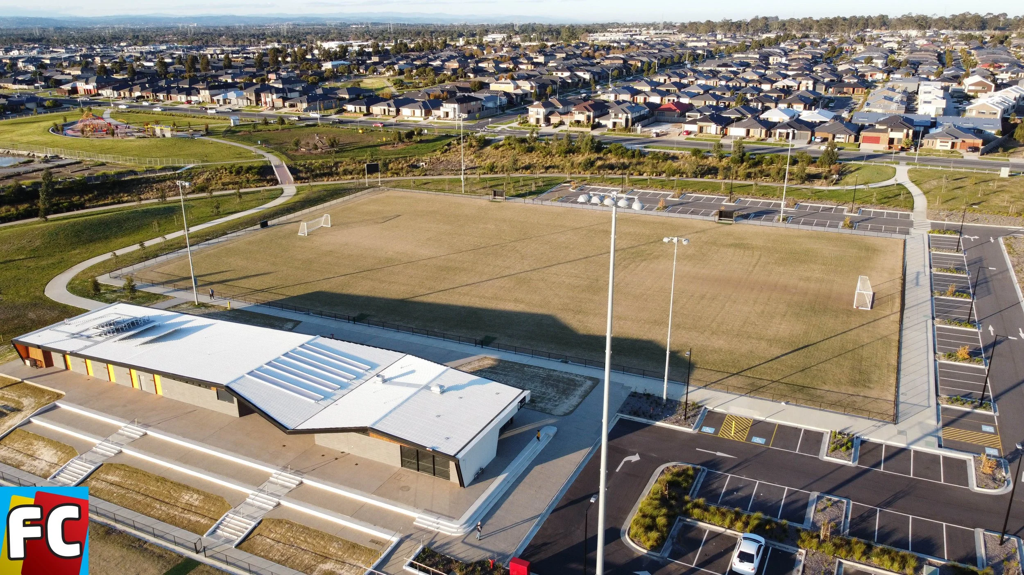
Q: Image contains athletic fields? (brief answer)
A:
Yes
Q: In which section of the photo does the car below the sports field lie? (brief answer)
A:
bottom right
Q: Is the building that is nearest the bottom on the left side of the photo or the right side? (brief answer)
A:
left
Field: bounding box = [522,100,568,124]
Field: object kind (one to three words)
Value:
house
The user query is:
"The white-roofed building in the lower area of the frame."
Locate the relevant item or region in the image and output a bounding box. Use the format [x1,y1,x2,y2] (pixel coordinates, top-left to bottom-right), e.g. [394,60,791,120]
[11,302,530,490]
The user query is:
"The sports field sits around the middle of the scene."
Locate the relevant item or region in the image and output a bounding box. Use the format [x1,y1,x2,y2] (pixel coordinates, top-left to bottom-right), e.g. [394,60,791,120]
[111,188,904,422]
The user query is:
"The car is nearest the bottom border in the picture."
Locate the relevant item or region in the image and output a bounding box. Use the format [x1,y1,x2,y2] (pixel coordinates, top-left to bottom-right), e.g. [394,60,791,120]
[731,531,767,575]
